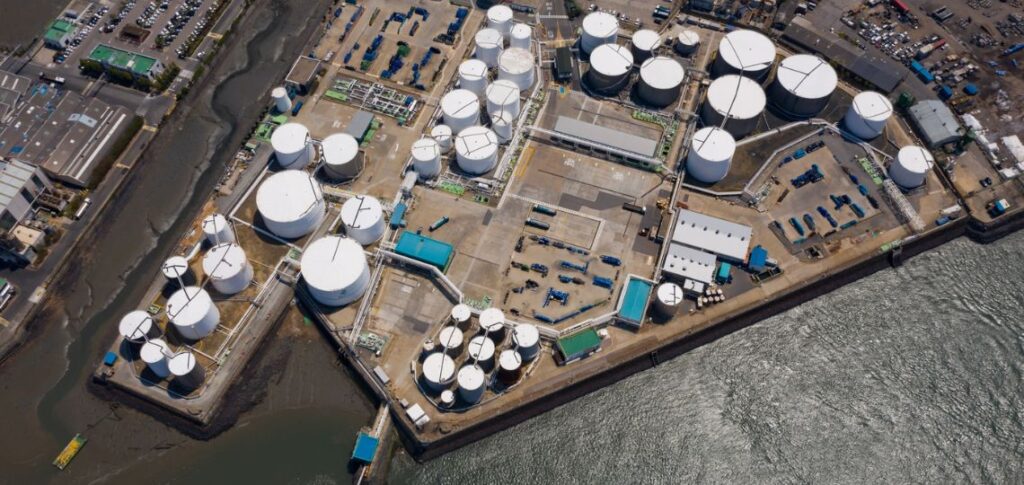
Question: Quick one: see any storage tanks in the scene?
Yes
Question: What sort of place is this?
port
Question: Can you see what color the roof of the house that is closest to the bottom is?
blue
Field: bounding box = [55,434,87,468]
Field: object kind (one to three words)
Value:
ship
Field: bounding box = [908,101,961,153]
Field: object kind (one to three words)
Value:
shed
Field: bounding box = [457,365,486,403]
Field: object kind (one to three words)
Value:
storage tank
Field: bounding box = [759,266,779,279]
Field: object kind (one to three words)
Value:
vehicle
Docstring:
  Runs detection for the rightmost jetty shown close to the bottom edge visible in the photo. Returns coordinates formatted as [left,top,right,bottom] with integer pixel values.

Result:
[351,400,388,485]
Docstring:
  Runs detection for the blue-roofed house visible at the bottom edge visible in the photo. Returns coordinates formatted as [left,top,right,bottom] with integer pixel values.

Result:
[352,432,380,465]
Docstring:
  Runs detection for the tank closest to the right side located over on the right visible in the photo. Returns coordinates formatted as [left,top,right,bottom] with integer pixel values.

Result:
[890,145,934,188]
